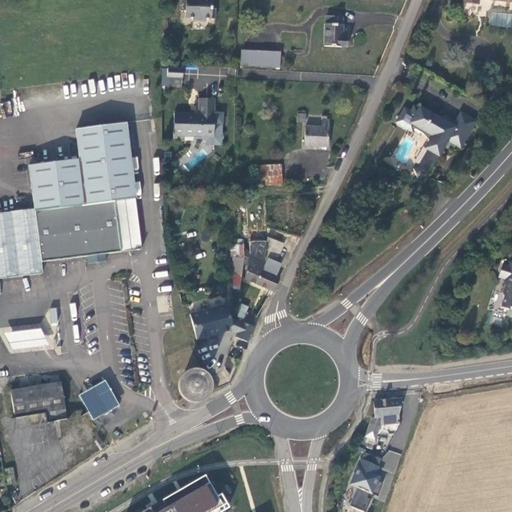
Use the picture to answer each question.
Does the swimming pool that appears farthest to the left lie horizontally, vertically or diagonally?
diagonally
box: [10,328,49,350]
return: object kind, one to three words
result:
building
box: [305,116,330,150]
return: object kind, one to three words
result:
house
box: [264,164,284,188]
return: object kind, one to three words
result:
barn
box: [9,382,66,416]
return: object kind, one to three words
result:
shed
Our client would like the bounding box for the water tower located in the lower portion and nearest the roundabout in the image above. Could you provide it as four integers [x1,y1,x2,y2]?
[178,368,214,404]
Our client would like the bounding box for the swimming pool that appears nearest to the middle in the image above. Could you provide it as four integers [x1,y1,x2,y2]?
[185,148,209,172]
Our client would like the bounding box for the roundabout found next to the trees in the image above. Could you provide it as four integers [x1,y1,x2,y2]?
[244,322,360,438]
